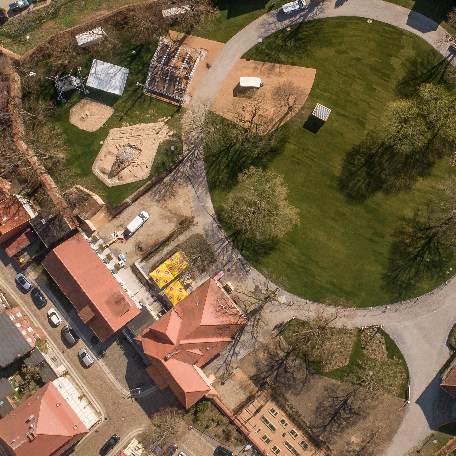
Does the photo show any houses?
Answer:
Yes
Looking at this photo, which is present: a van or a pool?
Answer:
van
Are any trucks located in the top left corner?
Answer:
Yes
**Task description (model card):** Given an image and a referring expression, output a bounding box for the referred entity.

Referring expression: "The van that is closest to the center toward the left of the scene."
[121,208,153,238]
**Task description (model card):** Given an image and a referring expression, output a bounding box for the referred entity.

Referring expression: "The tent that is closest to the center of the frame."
[165,251,188,277]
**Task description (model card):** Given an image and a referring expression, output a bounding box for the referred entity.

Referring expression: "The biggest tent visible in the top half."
[86,59,132,95]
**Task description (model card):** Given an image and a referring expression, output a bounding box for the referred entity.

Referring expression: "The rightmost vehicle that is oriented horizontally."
[279,0,310,17]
